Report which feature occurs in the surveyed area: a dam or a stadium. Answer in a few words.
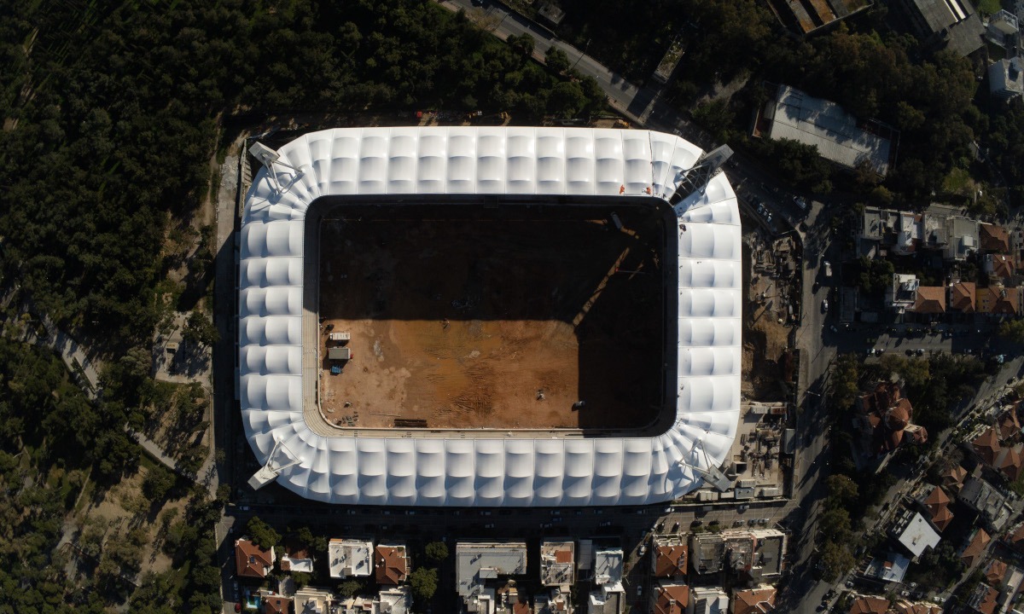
stadium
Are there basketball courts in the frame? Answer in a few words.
No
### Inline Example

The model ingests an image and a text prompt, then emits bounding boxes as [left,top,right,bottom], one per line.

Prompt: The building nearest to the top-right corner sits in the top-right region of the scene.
[983,9,1021,41]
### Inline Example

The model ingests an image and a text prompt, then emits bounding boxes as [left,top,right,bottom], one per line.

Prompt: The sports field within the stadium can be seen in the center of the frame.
[318,203,664,430]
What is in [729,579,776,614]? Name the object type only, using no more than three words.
house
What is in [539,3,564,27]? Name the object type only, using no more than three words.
shed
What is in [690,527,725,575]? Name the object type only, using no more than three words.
building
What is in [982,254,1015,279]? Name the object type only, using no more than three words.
house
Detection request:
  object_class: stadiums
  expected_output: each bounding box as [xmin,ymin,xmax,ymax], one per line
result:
[240,127,741,505]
